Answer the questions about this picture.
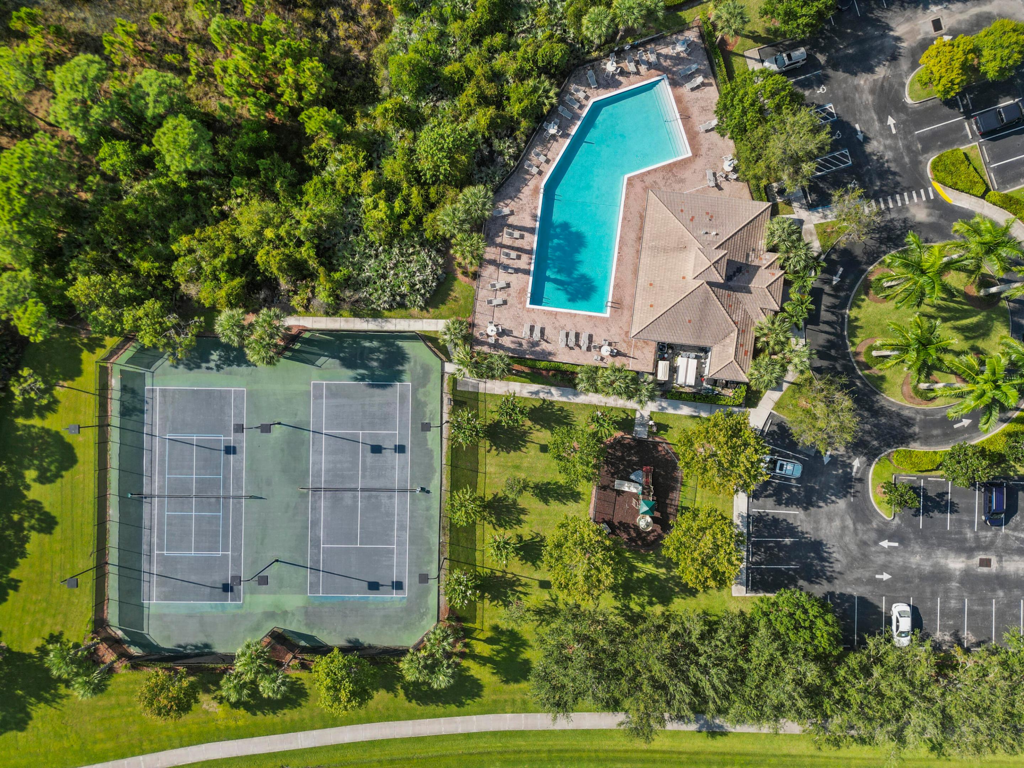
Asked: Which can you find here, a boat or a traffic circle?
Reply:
traffic circle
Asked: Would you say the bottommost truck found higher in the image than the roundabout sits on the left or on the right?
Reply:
right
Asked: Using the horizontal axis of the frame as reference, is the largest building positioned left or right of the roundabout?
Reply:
left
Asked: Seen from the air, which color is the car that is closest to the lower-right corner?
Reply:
white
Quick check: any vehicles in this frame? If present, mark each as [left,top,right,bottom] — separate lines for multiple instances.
[980,481,1007,526]
[763,455,802,477]
[971,104,1024,136]
[889,602,912,646]
[762,45,808,70]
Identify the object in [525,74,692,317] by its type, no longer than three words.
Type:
swimming pool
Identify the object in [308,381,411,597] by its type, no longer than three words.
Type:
tennis court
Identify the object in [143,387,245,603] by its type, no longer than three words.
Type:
tennis court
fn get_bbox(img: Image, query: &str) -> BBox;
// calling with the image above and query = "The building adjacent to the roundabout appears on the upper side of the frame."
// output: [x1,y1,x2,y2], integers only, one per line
[631,188,784,382]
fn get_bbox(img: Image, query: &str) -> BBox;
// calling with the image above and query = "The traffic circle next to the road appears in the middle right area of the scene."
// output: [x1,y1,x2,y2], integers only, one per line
[846,243,1012,408]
